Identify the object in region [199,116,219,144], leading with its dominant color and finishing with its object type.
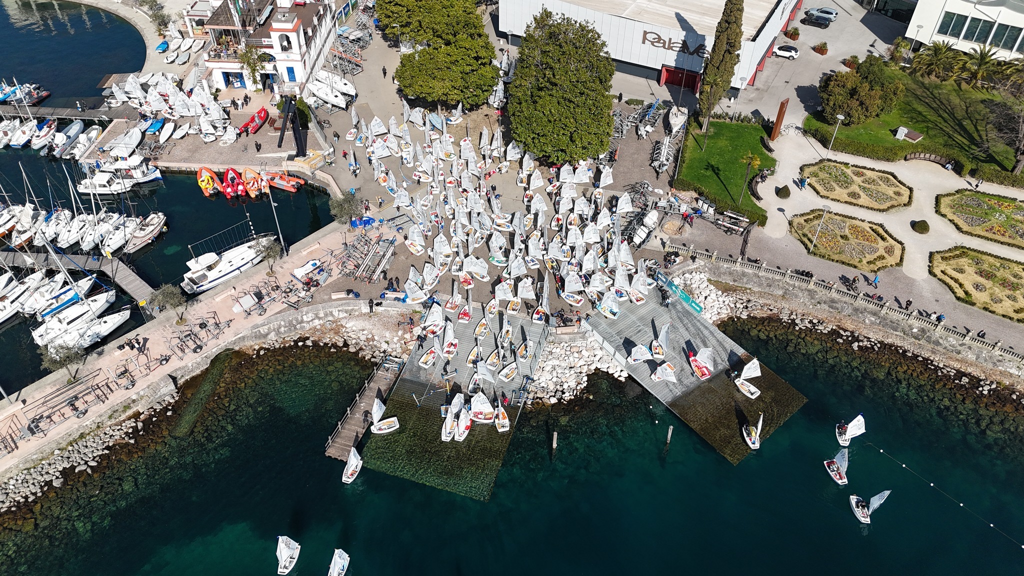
white boat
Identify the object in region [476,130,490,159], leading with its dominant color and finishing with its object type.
white boat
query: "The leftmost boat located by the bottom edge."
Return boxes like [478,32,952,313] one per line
[277,536,303,576]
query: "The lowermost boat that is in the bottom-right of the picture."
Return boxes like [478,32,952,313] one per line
[847,491,885,526]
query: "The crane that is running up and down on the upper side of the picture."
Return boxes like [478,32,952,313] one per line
[278,80,317,161]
